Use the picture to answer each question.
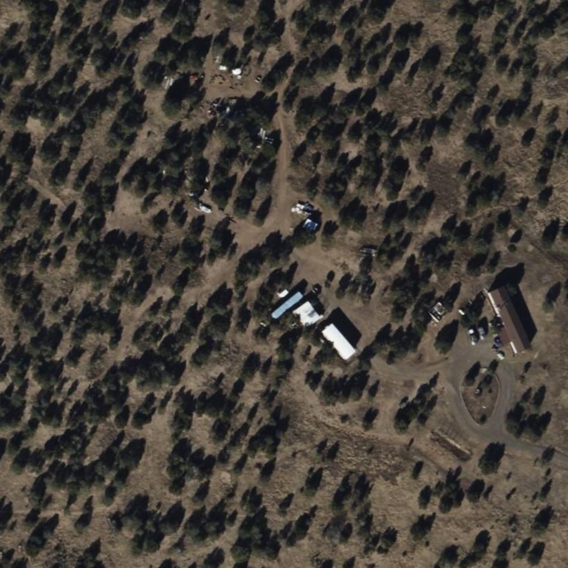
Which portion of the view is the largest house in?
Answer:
right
